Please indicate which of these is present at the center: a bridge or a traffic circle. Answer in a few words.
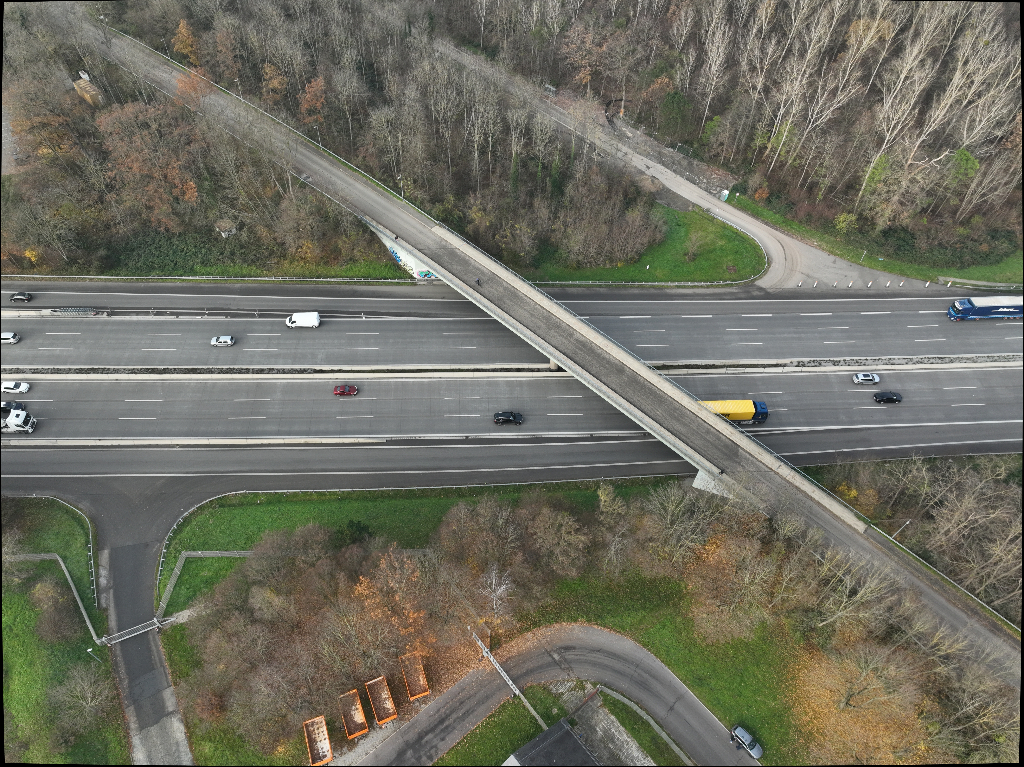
bridge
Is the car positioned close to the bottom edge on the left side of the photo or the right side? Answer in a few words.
right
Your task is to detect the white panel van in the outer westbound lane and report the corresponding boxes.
[284,311,320,328]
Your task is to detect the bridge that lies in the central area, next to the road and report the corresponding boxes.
[357,196,877,572]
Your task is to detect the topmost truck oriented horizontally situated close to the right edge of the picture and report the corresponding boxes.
[947,297,1024,323]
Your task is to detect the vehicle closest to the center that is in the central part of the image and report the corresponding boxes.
[493,412,524,426]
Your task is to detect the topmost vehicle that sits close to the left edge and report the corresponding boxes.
[6,292,33,304]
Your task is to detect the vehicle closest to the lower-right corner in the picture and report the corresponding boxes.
[727,720,765,760]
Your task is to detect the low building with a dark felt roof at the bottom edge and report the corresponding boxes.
[511,716,598,767]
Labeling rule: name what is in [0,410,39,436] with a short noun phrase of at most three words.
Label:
truck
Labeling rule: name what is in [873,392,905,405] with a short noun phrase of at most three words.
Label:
vehicle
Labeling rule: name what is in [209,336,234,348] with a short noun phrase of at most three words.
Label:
vehicle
